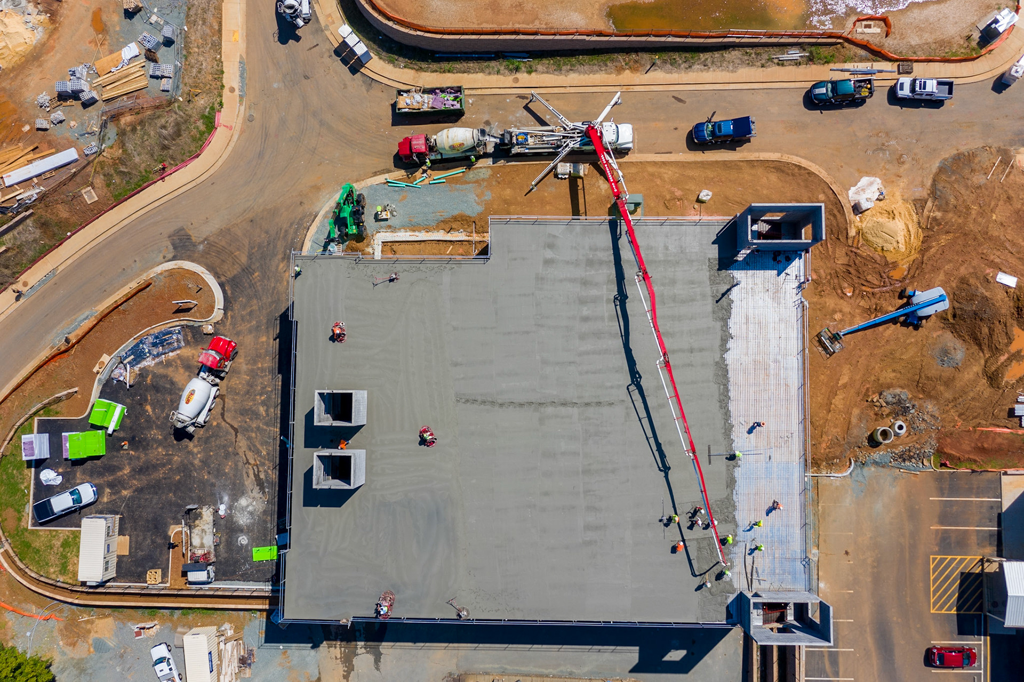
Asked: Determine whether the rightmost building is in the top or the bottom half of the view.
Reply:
bottom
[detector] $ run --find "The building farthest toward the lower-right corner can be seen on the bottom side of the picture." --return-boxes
[987,558,1024,628]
